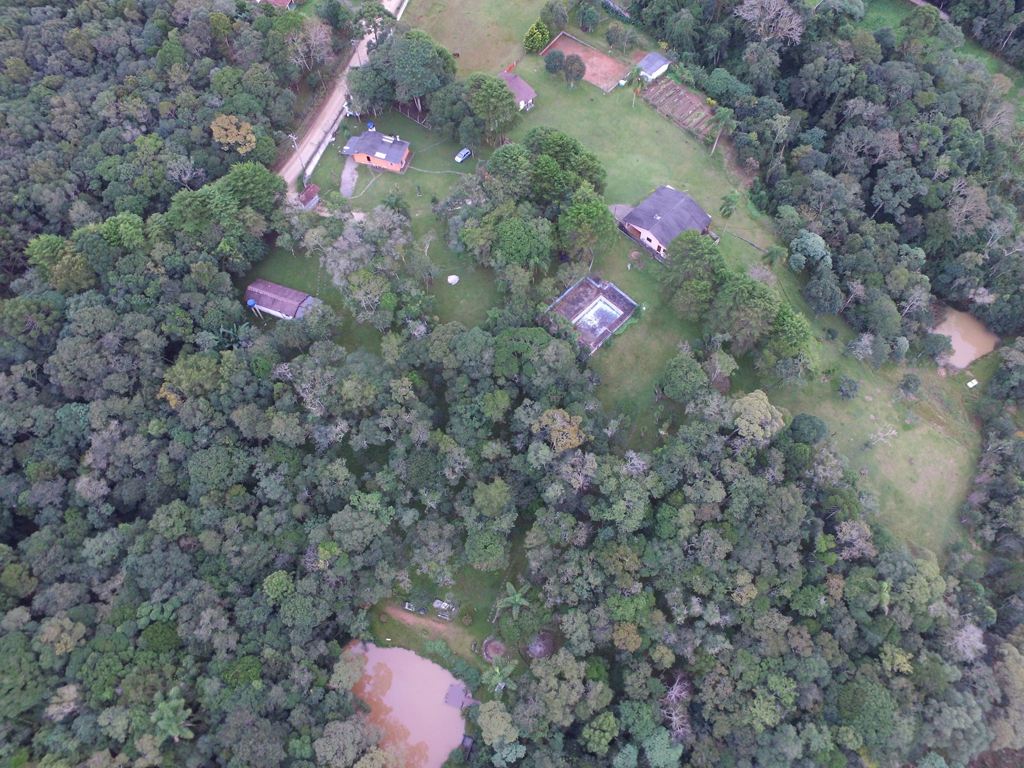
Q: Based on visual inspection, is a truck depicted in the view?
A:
No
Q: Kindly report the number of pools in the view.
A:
one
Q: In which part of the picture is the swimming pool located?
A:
center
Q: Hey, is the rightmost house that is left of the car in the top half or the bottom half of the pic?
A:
top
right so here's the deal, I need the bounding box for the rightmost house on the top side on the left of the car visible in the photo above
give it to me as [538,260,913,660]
[338,126,411,171]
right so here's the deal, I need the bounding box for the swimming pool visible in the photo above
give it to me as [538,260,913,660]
[545,274,639,356]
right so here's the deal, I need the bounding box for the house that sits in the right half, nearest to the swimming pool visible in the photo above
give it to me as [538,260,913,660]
[620,189,709,257]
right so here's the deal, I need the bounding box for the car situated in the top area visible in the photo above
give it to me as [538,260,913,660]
[453,144,473,162]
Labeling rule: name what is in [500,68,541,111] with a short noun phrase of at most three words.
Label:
building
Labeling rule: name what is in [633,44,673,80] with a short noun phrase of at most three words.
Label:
shed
